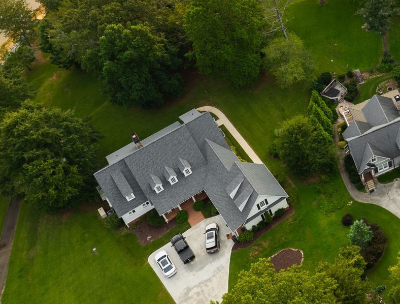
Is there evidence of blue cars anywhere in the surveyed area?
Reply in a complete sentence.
No, no blue car is visible in the view.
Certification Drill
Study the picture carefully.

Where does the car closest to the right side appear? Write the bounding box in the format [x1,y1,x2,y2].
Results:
[203,223,220,256]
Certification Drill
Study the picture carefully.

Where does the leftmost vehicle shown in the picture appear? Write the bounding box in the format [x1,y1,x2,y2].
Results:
[155,249,178,281]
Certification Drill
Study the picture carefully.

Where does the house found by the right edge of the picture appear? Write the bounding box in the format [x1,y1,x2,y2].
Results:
[339,89,400,193]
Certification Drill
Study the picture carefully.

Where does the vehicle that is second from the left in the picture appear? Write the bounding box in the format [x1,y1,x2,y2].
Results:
[171,232,197,268]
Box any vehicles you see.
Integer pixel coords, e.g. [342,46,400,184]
[155,249,178,281]
[203,223,220,256]
[171,232,197,268]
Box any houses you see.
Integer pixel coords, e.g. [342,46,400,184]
[339,89,400,193]
[94,106,288,240]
